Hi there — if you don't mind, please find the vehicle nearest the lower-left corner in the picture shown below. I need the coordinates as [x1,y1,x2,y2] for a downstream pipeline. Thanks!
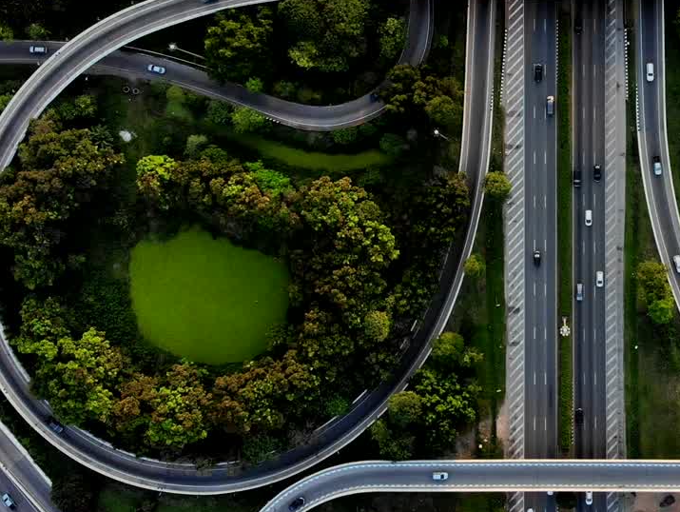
[1,494,17,511]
